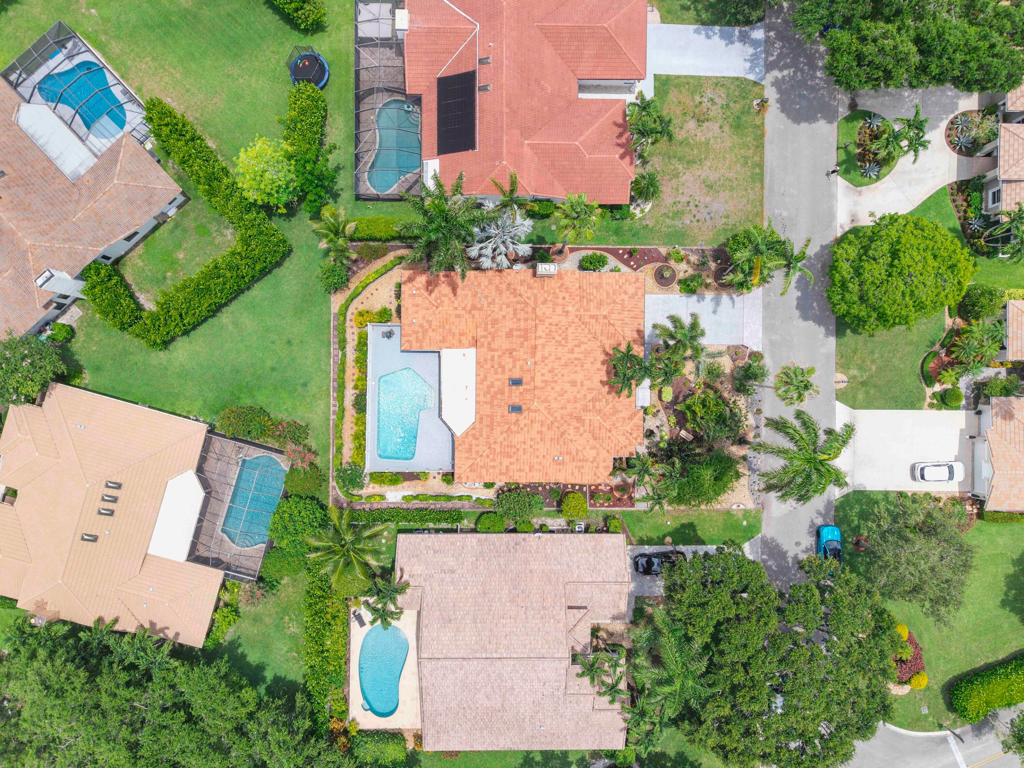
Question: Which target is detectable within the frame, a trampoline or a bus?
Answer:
trampoline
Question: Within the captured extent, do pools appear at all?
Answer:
Yes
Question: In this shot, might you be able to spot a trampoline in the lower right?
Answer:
No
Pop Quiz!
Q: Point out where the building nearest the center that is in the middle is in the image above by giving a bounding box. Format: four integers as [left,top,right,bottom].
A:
[400,263,646,484]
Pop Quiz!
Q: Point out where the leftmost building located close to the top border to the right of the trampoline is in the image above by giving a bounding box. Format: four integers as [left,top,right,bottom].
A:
[395,0,649,206]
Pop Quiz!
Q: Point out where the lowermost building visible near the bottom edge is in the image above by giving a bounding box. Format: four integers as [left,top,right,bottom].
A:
[398,532,632,752]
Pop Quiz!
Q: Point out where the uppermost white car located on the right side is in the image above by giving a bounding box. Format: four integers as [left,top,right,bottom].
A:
[909,460,964,485]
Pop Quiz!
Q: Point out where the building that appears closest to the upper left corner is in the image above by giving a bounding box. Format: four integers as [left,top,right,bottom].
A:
[0,73,185,364]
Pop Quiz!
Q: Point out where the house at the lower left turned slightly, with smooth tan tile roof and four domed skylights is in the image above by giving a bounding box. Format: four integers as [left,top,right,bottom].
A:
[0,384,230,649]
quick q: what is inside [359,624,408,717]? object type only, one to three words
swimming pool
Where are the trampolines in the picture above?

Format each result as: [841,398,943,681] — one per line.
[285,46,331,91]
